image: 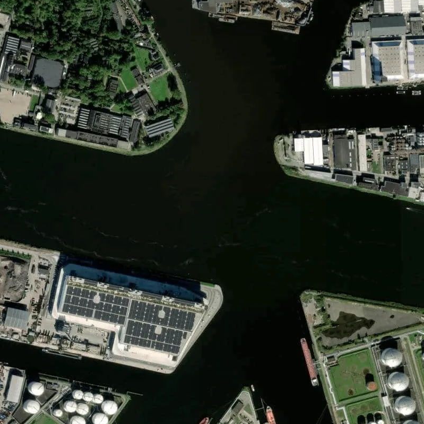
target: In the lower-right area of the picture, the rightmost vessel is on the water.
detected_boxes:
[301,338,318,387]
